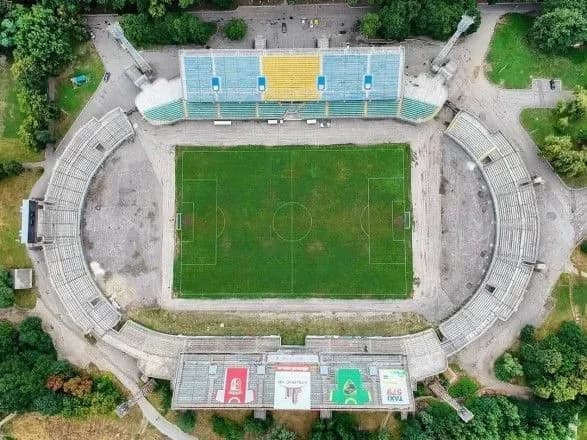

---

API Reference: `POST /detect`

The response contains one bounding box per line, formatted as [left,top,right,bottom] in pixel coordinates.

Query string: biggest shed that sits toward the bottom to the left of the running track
[15,269,32,289]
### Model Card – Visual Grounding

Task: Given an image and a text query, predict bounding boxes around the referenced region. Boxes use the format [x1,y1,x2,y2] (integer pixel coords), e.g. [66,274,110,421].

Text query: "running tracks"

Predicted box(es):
[139,122,450,321]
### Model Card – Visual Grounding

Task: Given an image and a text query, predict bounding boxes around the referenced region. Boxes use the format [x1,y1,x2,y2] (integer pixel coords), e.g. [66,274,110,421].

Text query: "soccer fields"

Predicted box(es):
[172,144,413,299]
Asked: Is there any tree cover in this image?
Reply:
Yes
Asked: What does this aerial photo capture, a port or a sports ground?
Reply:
sports ground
